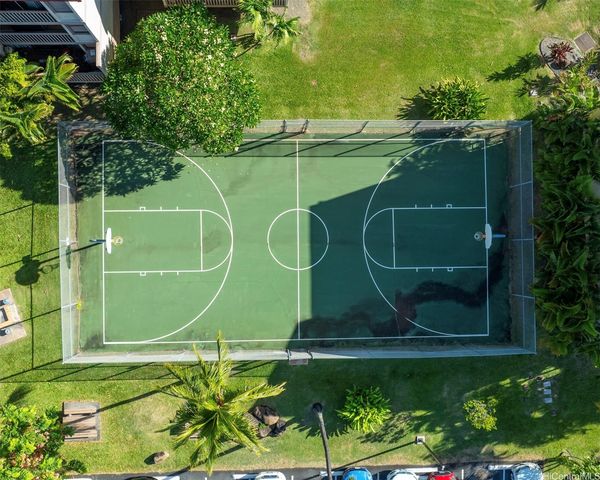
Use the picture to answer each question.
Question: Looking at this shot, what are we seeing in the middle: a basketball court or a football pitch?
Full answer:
There is a basketball court in the middle.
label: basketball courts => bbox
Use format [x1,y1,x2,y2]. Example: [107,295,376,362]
[79,132,511,352]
